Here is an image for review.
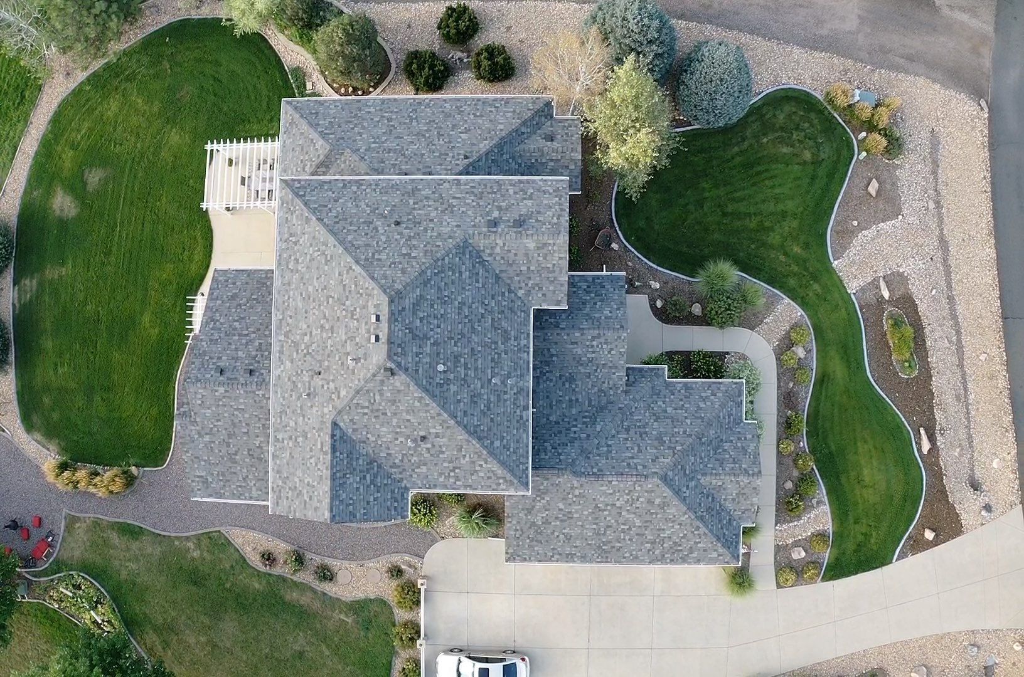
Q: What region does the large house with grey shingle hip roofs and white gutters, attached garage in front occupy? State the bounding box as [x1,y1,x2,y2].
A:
[177,93,762,568]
